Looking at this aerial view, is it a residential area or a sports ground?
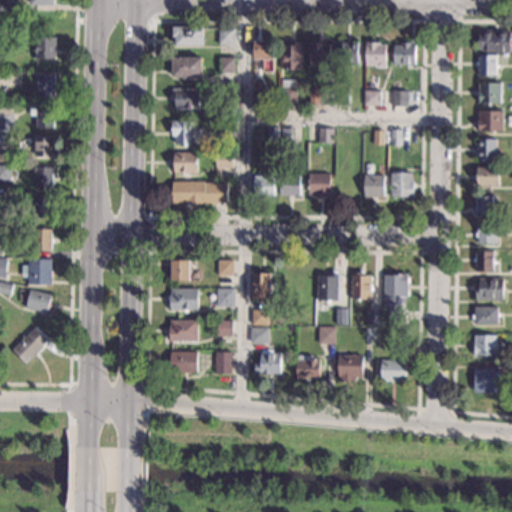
residential area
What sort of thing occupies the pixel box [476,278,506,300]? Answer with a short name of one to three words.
house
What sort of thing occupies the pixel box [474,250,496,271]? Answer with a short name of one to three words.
house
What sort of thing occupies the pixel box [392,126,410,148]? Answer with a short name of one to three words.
building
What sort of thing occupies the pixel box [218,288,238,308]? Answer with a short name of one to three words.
building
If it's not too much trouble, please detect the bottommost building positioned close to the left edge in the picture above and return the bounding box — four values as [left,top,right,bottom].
[13,327,52,364]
